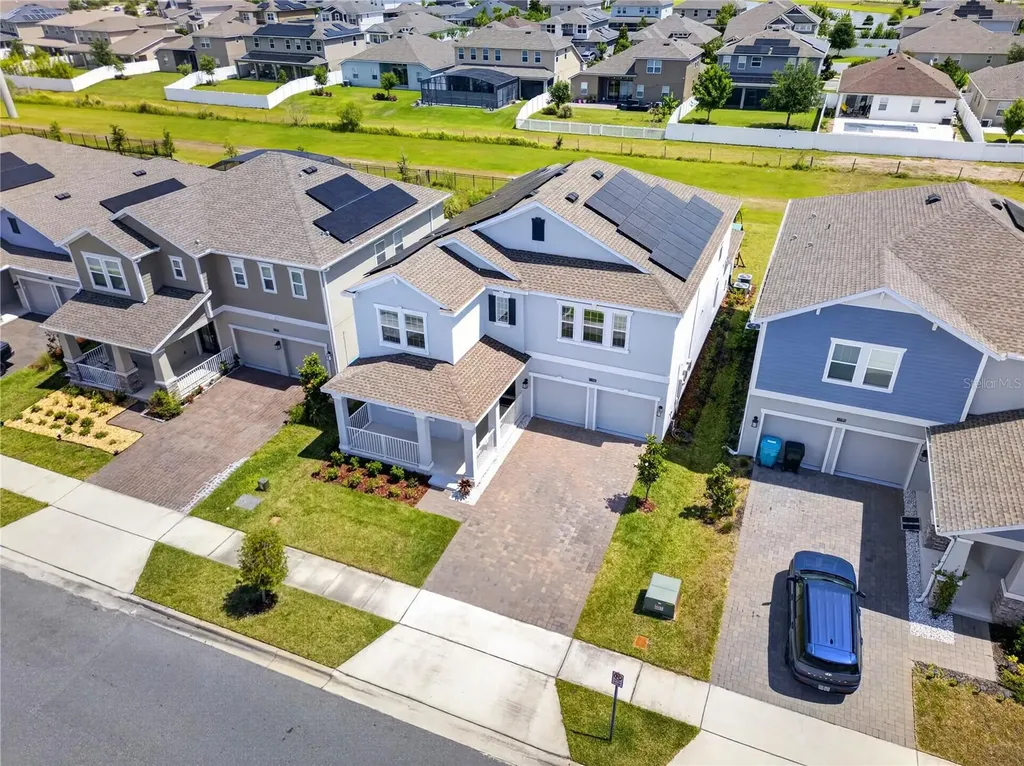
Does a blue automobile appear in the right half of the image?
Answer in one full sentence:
Yes, a blue automobile appears in the right half of the image.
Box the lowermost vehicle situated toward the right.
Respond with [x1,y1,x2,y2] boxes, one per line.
[785,555,866,699]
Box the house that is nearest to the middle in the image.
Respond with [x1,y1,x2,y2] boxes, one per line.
[317,156,743,494]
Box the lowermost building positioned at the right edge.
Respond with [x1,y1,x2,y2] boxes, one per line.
[718,181,1024,630]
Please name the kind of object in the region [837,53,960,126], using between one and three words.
house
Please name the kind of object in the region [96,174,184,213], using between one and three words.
solar panel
